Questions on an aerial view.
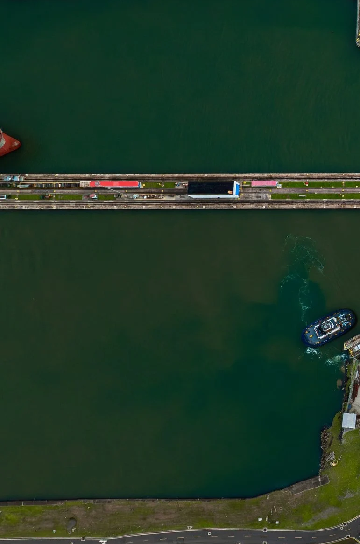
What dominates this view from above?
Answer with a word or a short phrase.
water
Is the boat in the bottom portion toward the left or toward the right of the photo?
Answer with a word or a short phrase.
right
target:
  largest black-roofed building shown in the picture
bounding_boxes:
[187,181,239,197]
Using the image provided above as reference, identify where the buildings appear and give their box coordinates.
[252,180,279,187]
[90,181,144,188]
[187,181,239,197]
[342,413,358,429]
